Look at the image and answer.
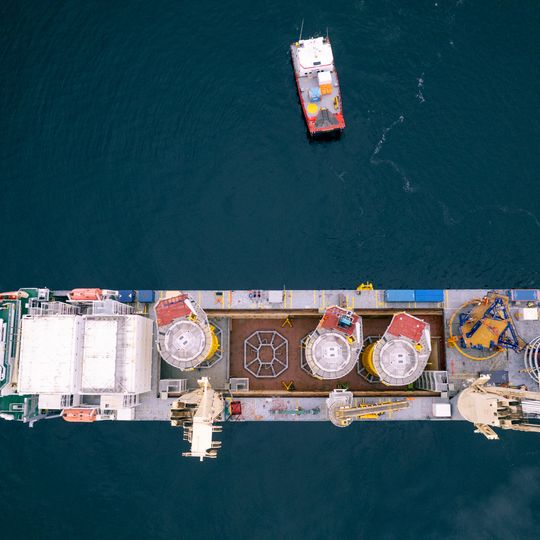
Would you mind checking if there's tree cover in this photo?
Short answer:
No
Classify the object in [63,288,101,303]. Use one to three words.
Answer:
boat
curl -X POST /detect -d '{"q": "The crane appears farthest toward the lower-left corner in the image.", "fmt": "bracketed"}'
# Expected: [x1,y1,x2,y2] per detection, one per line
[170,376,224,462]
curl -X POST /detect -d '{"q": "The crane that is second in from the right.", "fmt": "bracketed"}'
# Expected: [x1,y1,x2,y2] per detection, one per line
[327,389,411,427]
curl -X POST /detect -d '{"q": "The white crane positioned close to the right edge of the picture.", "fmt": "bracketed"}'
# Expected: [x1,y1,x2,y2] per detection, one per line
[456,374,540,440]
